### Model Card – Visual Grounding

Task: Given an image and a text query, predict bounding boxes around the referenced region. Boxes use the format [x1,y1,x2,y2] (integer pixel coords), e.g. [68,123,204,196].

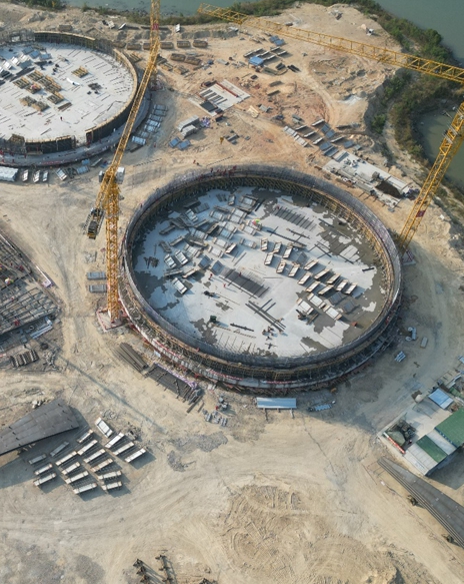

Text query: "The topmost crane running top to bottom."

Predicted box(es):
[147,0,166,91]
